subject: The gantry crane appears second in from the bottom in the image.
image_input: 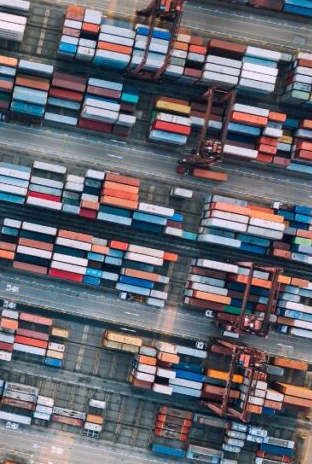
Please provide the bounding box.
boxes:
[214,257,280,340]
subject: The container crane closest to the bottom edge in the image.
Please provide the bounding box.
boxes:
[197,335,261,425]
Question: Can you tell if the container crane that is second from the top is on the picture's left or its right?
right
